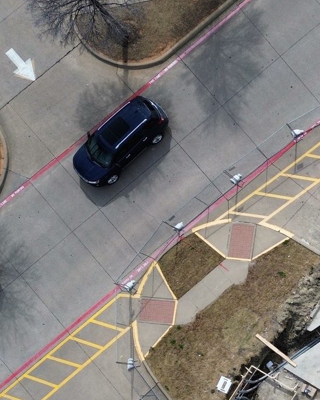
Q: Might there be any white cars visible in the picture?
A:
No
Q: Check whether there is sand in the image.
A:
No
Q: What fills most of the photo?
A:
paved ground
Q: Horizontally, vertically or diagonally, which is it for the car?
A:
diagonally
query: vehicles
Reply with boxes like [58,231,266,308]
[71,94,169,188]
